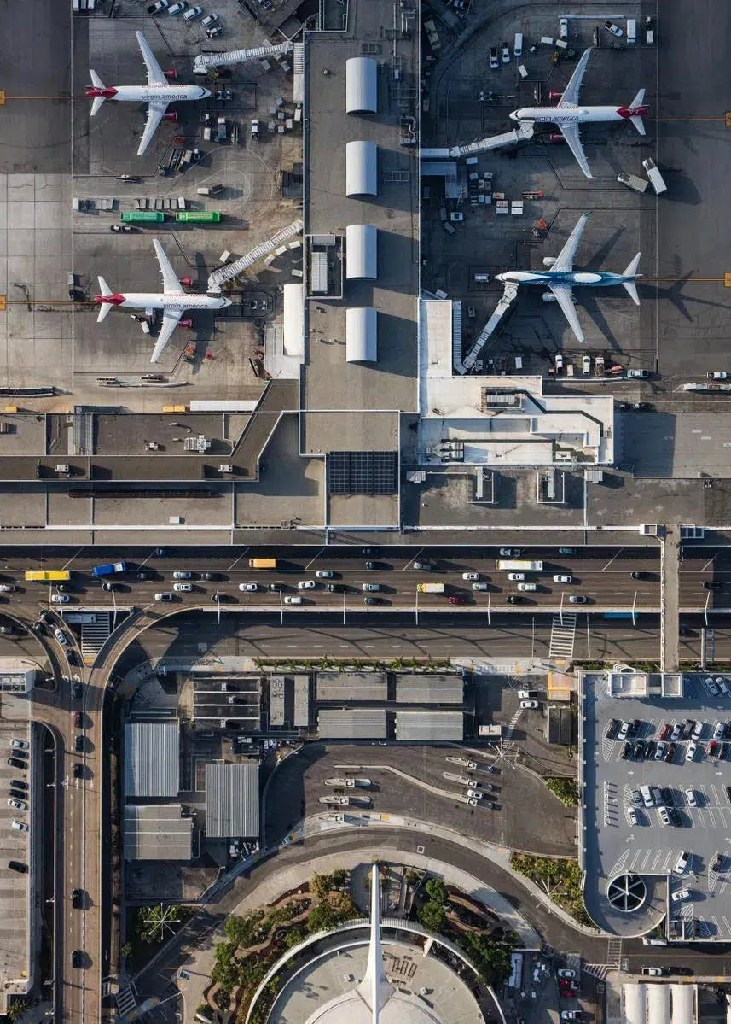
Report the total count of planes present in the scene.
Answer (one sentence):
The number of planes here is 4.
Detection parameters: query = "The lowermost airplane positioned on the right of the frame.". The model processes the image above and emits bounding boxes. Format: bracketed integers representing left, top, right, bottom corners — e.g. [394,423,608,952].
[495,210,646,340]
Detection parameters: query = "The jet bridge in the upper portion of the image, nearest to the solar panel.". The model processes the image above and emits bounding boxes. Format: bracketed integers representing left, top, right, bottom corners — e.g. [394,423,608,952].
[454,280,520,376]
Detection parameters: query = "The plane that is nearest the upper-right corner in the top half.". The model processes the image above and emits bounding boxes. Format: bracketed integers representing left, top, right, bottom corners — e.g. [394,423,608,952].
[509,43,652,177]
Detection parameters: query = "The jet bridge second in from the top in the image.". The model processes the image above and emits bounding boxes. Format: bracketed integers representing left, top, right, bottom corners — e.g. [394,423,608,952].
[420,119,535,161]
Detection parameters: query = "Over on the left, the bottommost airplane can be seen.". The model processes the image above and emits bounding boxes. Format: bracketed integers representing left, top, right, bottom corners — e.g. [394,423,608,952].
[91,238,231,364]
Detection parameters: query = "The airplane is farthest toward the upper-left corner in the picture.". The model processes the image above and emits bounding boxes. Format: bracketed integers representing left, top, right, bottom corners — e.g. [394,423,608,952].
[83,28,211,154]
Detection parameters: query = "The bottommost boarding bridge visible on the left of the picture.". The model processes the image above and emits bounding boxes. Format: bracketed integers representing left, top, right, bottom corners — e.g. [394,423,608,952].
[209,222,303,297]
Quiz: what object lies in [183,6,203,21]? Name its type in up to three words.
vehicle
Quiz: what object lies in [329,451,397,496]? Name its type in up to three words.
solar panel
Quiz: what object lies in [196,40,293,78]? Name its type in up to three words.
jet bridge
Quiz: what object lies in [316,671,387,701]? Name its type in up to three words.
shed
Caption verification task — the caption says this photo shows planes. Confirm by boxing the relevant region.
[83,28,211,154]
[91,238,231,364]
[495,210,646,340]
[509,43,652,177]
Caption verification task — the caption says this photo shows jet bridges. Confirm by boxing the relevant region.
[209,222,303,297]
[196,40,293,78]
[454,280,520,376]
[420,119,535,161]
